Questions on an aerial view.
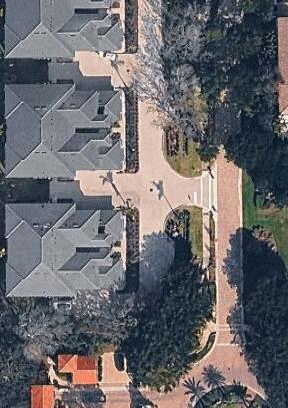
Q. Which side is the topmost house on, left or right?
left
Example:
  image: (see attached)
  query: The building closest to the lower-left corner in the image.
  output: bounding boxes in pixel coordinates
[30,385,54,408]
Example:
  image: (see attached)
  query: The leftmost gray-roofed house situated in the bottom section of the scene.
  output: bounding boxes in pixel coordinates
[4,203,123,298]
